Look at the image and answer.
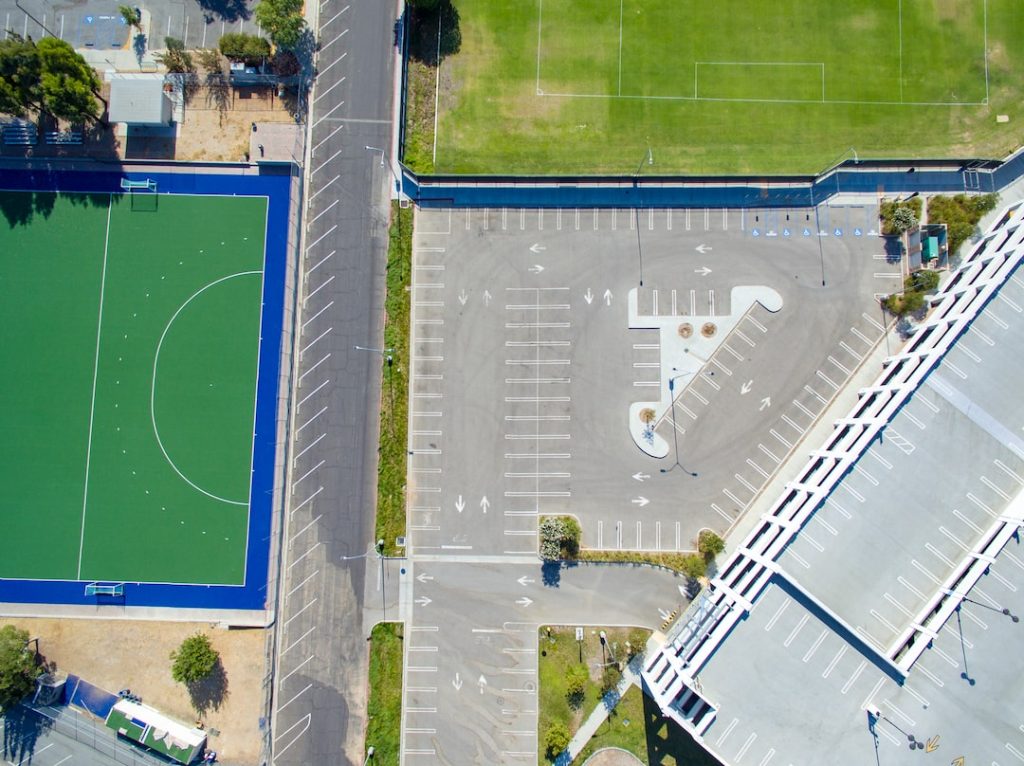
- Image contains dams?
No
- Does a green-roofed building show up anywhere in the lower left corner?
Yes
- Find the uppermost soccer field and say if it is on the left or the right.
right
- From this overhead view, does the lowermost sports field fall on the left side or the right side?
left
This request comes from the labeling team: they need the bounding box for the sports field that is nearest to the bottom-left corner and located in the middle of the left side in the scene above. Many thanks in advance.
[0,170,290,608]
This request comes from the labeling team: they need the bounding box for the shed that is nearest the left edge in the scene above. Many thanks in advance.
[23,668,69,711]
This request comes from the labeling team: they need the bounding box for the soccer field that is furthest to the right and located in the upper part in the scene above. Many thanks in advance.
[426,0,1024,182]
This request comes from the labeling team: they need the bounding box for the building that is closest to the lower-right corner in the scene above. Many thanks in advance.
[642,204,1024,766]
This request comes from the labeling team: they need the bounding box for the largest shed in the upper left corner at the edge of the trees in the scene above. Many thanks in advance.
[109,80,175,137]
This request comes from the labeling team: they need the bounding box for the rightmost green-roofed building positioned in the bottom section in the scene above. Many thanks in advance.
[104,700,210,766]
